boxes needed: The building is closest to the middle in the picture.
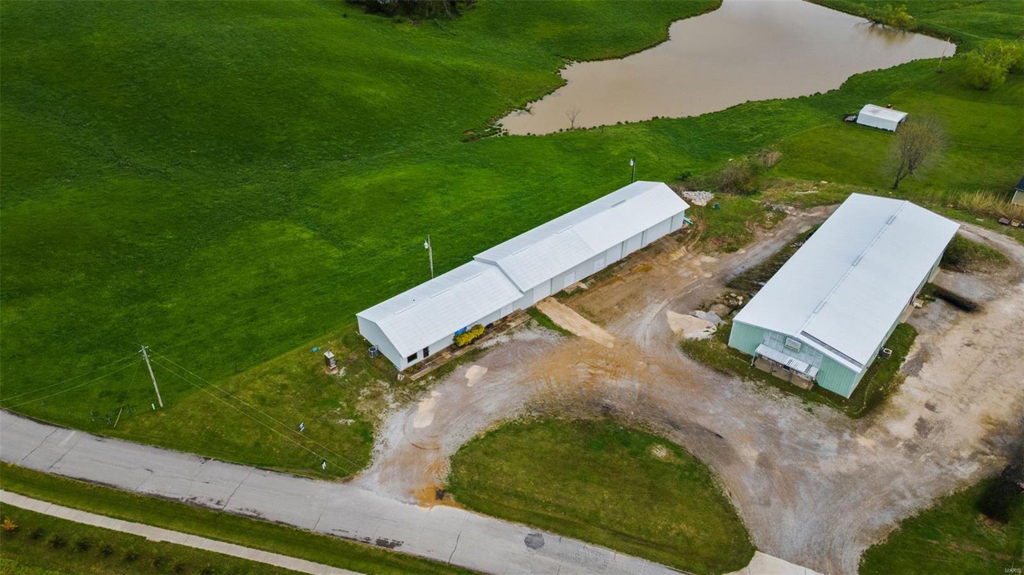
[356,180,690,369]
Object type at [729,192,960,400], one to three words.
building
